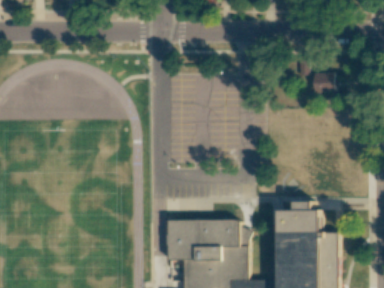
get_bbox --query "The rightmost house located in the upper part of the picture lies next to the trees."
[314,72,336,92]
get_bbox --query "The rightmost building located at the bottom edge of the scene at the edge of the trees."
[275,201,344,288]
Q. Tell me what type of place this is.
sports ground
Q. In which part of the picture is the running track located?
left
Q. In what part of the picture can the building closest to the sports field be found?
bottom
